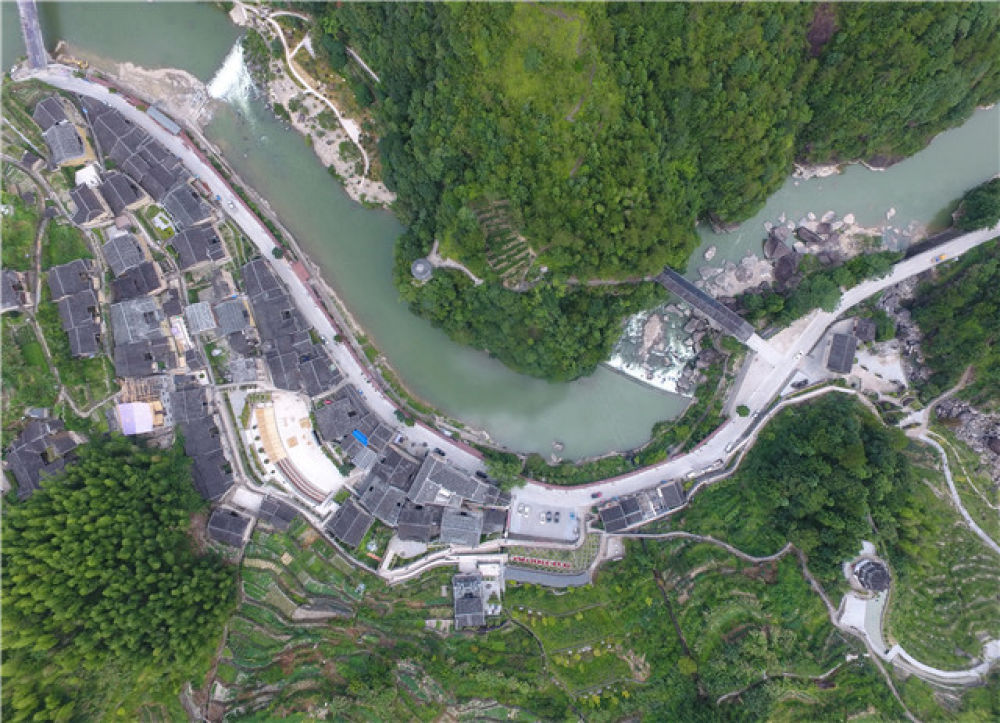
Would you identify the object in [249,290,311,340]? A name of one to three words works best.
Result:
house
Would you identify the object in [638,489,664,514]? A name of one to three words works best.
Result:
building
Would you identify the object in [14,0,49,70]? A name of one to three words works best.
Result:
bridge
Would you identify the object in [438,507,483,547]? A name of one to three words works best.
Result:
house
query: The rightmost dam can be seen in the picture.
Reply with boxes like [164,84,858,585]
[596,362,697,400]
